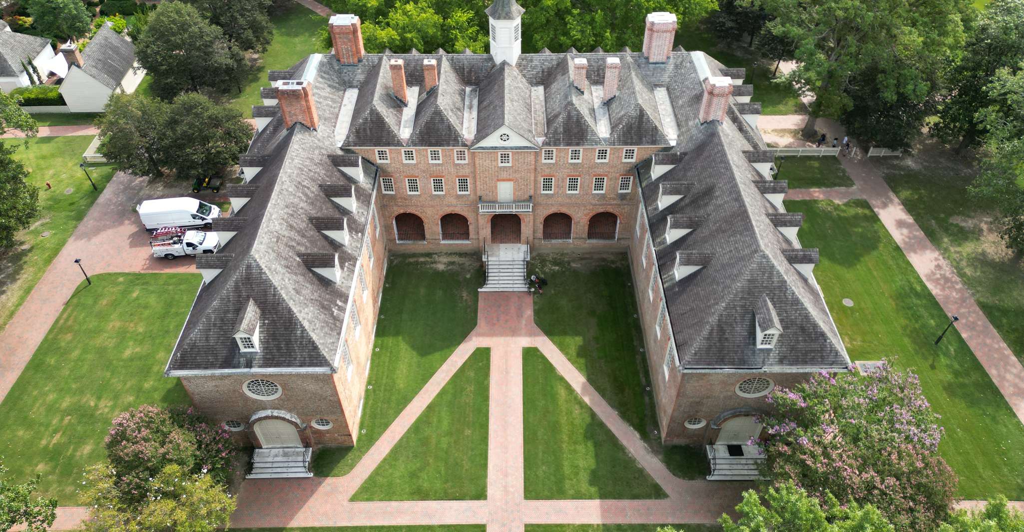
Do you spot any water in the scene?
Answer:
No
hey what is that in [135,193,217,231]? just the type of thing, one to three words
van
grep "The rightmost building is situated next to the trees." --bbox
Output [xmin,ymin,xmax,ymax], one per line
[162,0,853,481]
